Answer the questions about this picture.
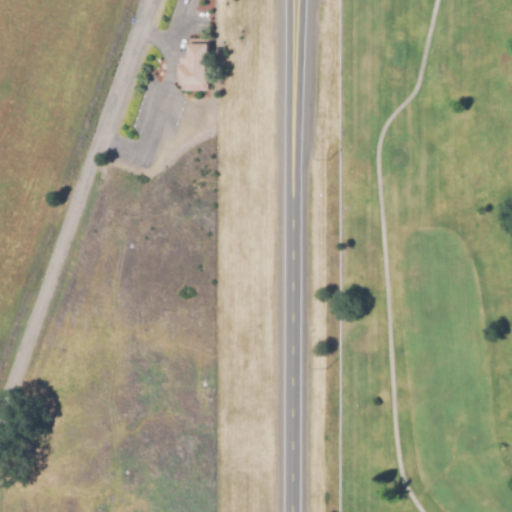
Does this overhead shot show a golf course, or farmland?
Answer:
golf course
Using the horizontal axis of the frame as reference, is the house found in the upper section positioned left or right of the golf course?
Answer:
left of it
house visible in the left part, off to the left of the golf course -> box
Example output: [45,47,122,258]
[178,45,210,92]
